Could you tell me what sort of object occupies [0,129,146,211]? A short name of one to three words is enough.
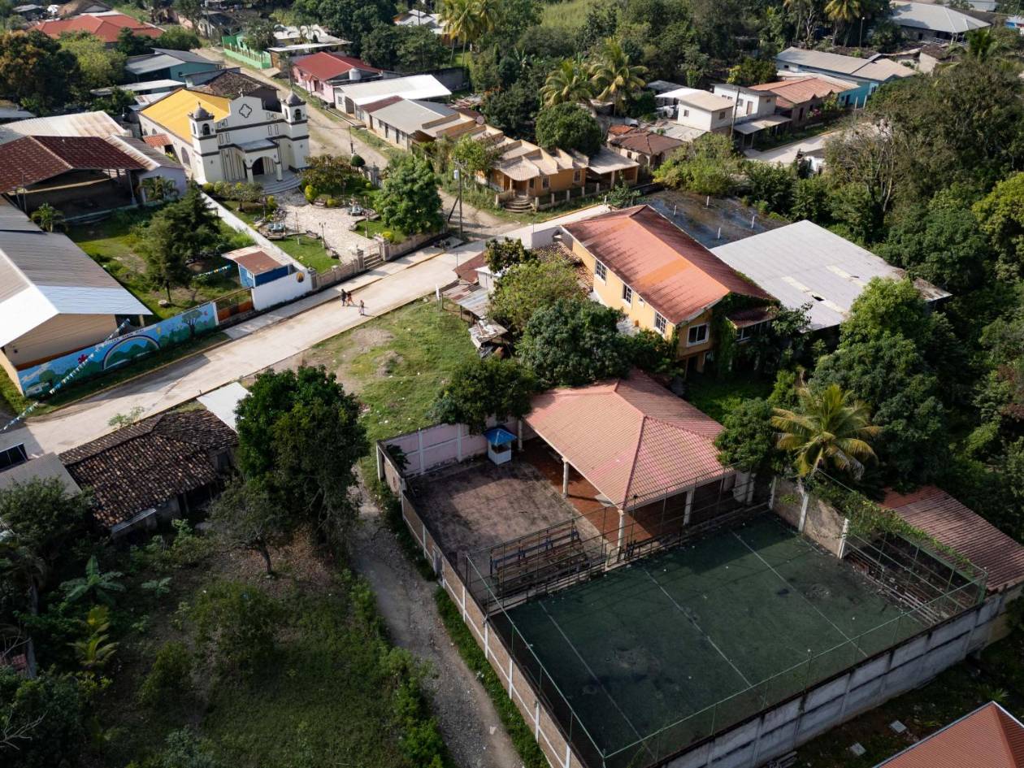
building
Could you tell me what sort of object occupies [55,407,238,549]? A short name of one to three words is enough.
house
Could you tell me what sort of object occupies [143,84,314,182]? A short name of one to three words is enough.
building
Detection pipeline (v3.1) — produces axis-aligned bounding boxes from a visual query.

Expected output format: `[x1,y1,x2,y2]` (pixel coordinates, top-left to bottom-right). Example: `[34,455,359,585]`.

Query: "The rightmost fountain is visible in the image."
[339,197,375,217]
